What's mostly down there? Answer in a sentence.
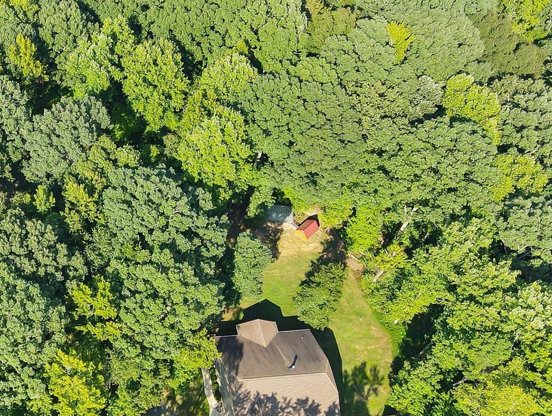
Most of the picture is covered by trees.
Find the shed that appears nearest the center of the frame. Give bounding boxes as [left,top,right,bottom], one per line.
[264,206,295,228]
